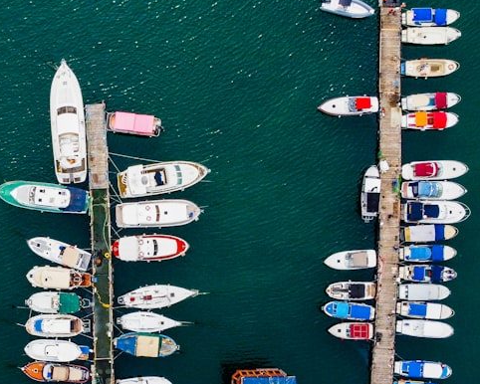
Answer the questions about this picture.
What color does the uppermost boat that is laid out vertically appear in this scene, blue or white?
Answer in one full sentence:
From above, the uppermost boat that is laid out vertically appears white.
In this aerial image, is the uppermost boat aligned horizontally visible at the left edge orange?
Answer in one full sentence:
No, from above the uppermost boat aligned horizontally visible at the left edge looks white.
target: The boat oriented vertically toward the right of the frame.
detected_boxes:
[357,164,383,227]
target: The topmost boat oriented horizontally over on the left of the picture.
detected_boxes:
[105,110,169,141]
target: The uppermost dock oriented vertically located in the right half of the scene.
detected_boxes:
[372,6,405,332]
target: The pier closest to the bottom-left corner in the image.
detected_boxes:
[85,103,119,384]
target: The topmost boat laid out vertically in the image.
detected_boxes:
[46,59,89,185]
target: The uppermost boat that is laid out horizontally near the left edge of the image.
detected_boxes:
[0,180,92,221]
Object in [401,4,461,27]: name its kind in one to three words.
boat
